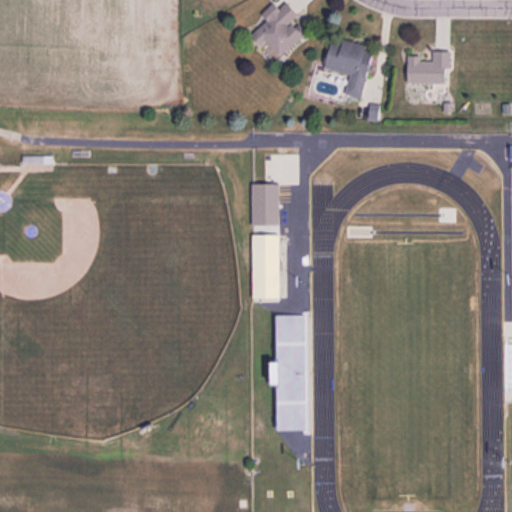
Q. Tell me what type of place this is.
sports ground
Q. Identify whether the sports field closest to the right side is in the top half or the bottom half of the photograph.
bottom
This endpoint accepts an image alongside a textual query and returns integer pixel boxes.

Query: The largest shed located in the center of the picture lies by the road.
[252,234,288,300]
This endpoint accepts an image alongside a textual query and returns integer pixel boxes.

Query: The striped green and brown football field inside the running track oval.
[334,183,481,512]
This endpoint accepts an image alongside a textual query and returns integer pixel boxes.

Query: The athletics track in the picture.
[314,162,502,512]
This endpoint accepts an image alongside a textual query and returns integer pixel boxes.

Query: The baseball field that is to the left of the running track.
[0,164,241,440]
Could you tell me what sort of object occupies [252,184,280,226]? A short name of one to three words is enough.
shed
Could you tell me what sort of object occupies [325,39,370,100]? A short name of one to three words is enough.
house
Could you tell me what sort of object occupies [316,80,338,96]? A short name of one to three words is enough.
swimming pool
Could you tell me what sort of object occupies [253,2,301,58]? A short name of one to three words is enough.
house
